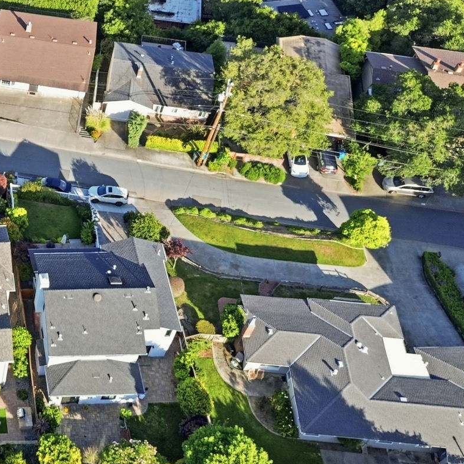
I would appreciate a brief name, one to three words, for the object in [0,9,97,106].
house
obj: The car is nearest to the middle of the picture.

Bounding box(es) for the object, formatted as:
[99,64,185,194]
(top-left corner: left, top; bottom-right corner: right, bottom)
[289,148,309,176]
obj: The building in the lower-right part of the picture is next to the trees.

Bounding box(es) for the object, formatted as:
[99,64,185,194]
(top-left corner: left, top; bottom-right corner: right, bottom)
[235,295,464,464]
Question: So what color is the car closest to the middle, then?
white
